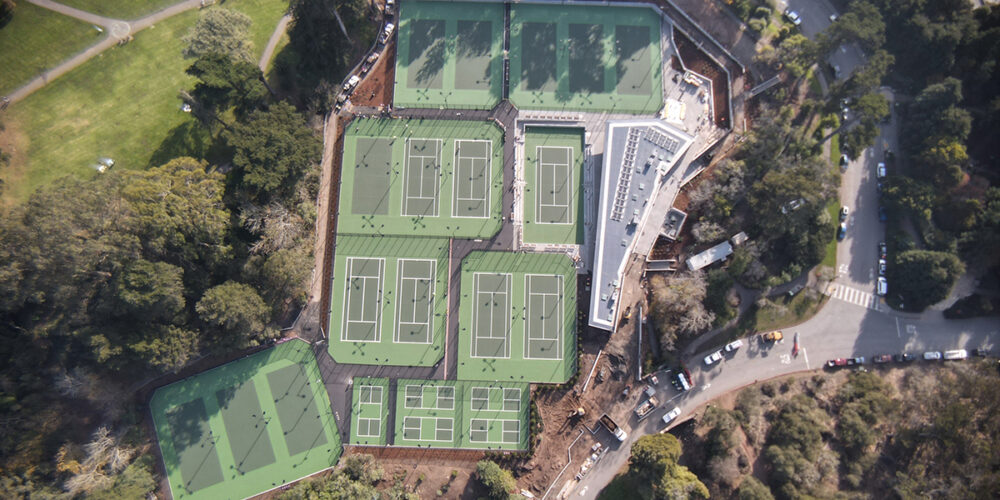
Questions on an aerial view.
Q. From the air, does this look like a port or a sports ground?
sports ground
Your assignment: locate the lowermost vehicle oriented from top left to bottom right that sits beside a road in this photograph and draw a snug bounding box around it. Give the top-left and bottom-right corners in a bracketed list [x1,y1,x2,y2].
[598,414,626,442]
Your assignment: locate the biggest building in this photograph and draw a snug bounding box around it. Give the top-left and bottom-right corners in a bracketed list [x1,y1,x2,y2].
[589,120,693,332]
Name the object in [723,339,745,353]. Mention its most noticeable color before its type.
white vehicle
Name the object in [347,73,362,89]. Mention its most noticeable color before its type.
white vehicle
